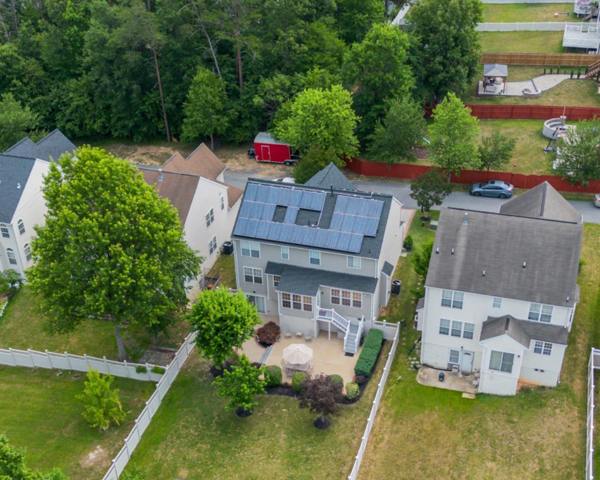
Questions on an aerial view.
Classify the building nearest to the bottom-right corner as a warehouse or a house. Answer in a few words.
house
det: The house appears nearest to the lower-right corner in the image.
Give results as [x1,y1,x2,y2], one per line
[414,181,585,395]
